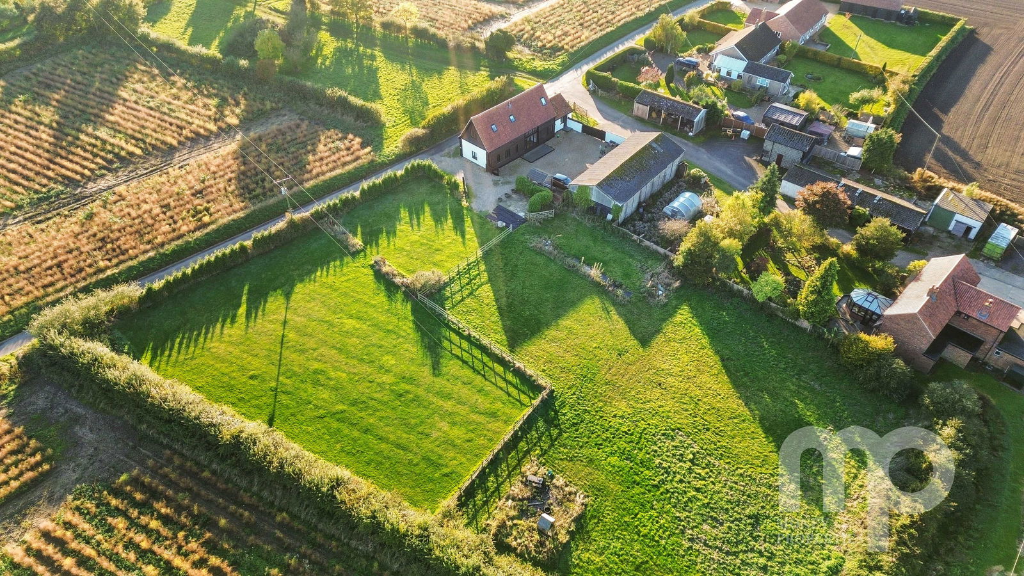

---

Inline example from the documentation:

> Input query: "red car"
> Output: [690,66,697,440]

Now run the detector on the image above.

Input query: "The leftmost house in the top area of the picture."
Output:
[458,84,573,172]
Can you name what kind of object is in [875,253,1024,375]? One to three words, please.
house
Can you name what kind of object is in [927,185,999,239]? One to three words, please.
barn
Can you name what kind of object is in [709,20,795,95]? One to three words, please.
house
